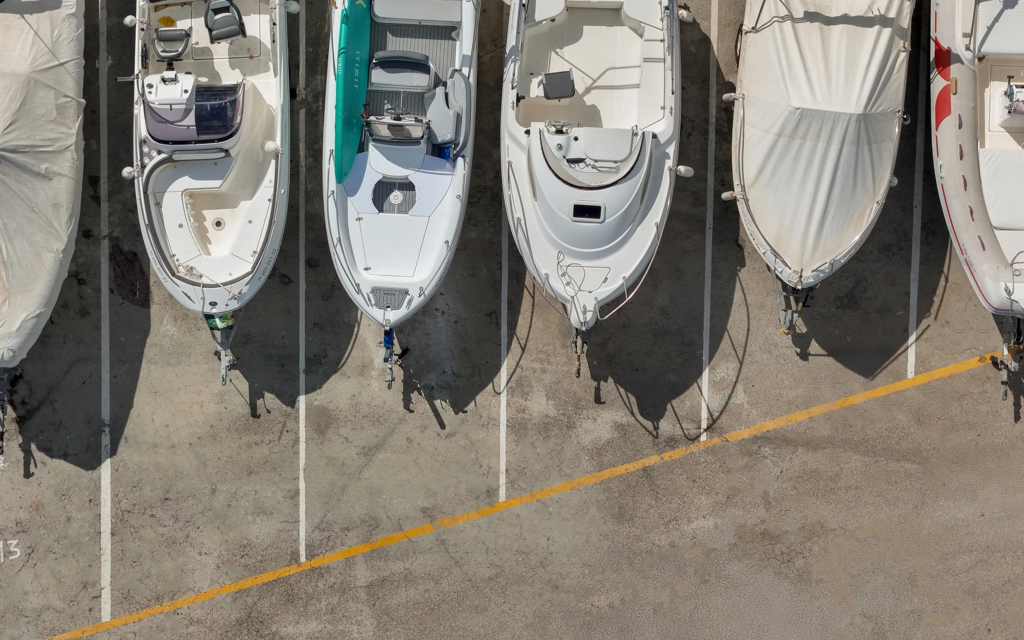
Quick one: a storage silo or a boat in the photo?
boat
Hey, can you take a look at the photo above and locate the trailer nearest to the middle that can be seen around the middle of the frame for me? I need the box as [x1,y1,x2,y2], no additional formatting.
[562,303,592,379]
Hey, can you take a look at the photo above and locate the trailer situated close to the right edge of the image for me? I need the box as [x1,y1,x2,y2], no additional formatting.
[988,312,1024,401]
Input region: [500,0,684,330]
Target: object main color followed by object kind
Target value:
white boat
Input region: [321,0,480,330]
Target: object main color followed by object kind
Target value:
white boat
